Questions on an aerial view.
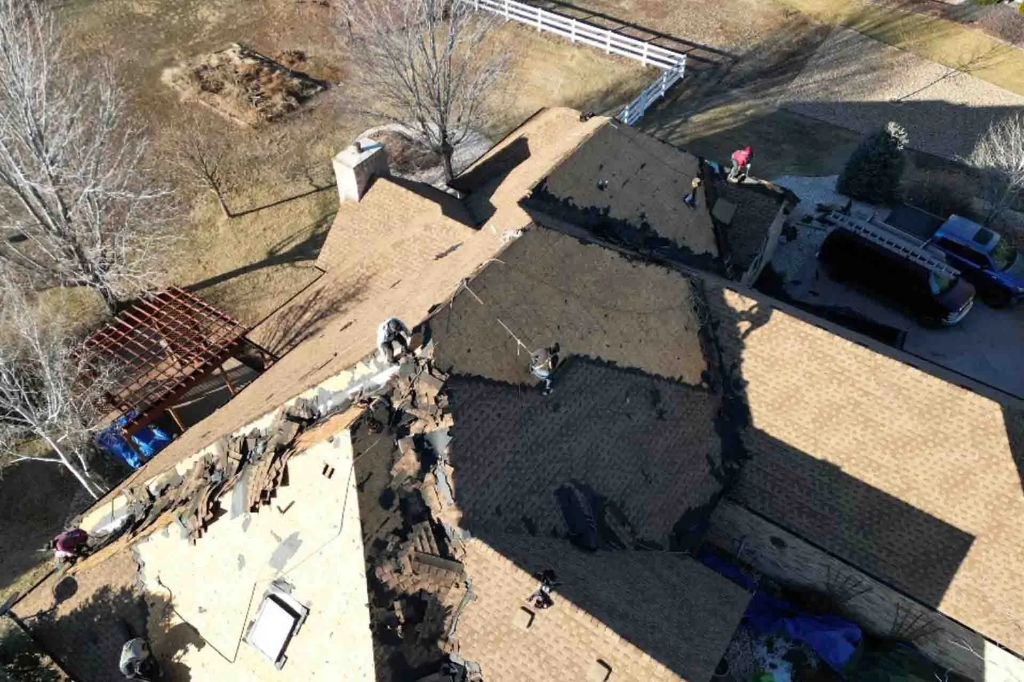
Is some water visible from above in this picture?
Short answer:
No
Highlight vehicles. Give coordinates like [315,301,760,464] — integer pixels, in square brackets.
[874,200,1024,300]
[813,202,981,320]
